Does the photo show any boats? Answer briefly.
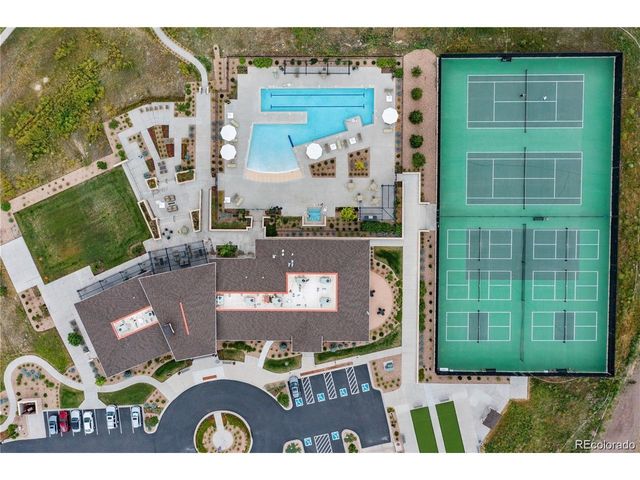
No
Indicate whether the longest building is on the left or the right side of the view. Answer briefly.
left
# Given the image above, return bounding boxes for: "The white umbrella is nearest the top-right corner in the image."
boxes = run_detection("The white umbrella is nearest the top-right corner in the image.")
[382,108,398,123]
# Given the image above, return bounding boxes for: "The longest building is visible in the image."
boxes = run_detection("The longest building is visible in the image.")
[74,238,371,378]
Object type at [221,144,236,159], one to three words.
umbrella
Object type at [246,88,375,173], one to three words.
swimming pool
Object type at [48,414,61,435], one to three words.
vehicle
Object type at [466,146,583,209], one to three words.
tennis court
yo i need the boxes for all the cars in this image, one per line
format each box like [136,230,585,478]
[58,409,72,433]
[70,409,84,432]
[106,404,119,429]
[288,374,300,398]
[48,414,61,435]
[82,410,96,434]
[131,405,143,428]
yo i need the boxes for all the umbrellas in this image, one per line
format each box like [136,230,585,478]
[382,108,398,123]
[306,143,321,158]
[221,124,236,140]
[221,144,236,159]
